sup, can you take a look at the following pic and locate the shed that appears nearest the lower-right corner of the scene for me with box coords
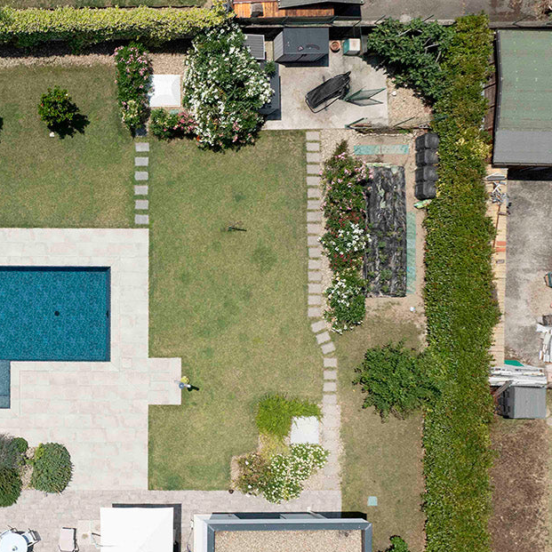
[498,386,547,418]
